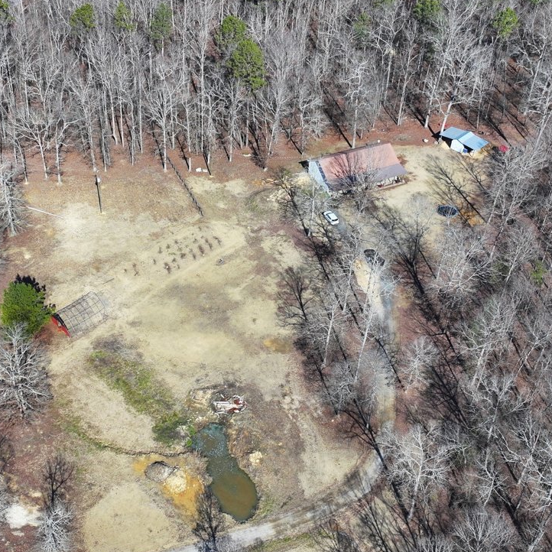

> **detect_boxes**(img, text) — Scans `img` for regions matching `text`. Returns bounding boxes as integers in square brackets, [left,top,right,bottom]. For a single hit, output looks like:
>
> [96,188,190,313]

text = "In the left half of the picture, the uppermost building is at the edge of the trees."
[51,295,108,336]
